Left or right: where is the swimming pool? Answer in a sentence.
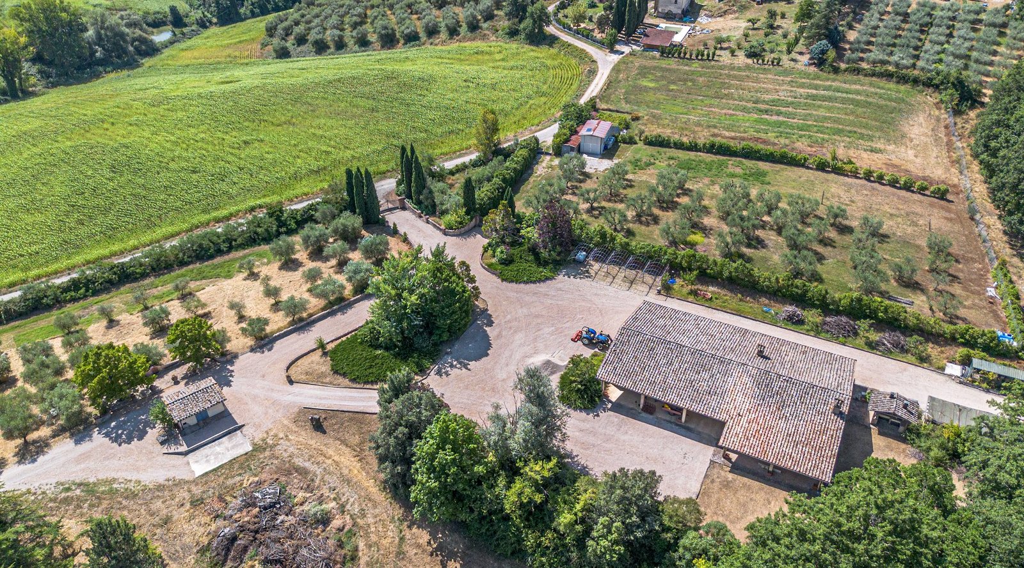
It is on the right.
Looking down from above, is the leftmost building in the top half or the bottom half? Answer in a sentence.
The bottom half of the photo is where the leftmost building is.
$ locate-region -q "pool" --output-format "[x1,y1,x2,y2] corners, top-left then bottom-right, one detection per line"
[654,23,694,44]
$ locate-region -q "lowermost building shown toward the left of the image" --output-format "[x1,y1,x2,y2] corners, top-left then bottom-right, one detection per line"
[162,377,227,438]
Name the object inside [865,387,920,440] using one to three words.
building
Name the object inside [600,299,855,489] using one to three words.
barn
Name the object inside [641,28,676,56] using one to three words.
building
